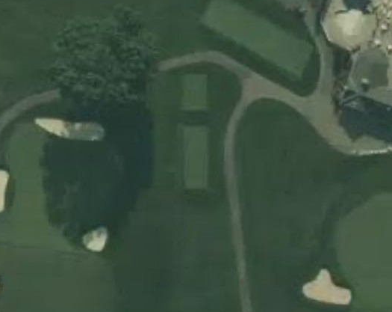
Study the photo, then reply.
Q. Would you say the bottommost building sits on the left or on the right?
right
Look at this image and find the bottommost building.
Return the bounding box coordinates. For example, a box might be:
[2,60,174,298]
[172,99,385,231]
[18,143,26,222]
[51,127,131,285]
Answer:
[332,49,392,129]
